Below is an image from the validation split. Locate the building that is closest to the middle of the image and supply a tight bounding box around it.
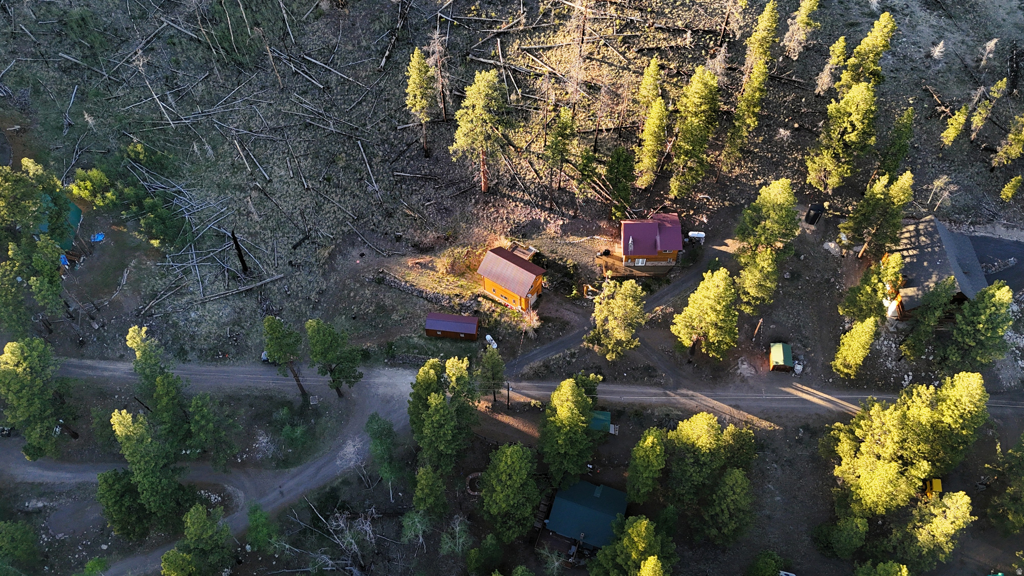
[477,247,549,310]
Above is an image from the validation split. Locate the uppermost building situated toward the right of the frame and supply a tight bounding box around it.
[619,212,685,268]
